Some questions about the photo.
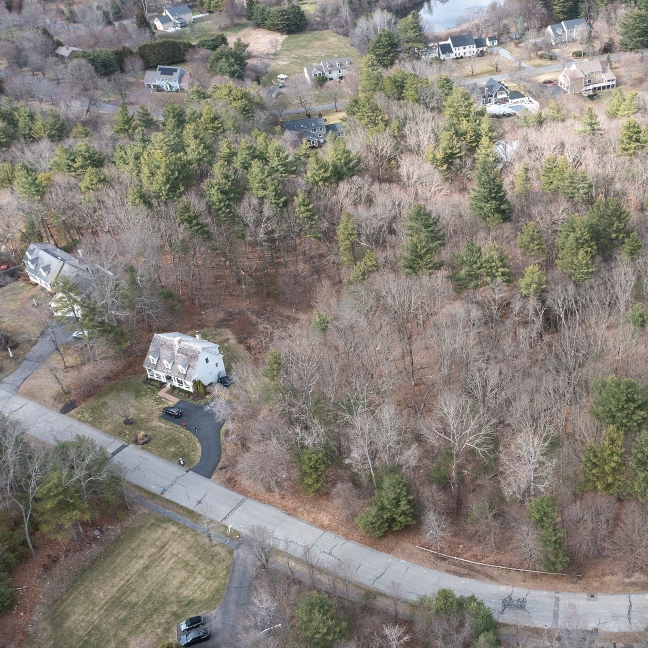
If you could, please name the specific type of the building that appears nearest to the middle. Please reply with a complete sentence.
The building that appears nearest to the middle appears to be a house.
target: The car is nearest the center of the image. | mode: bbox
[159,405,182,418]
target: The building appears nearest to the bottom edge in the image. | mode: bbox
[143,330,232,389]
